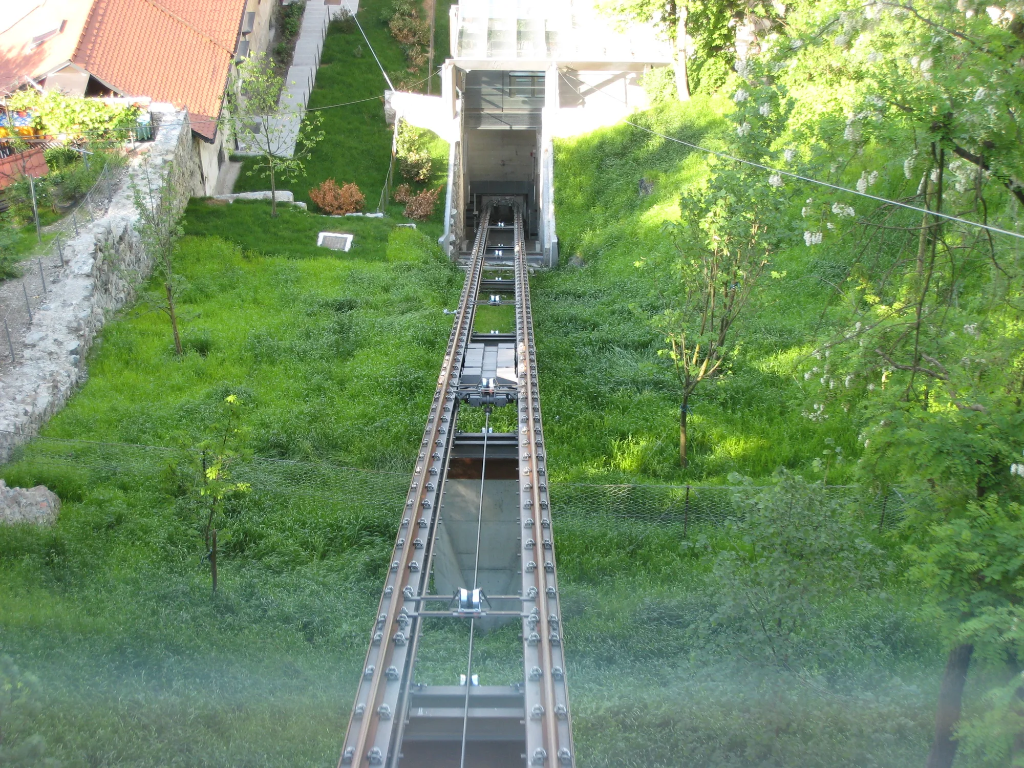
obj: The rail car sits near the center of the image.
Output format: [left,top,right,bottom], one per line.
[458,340,516,410]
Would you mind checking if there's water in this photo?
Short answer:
No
